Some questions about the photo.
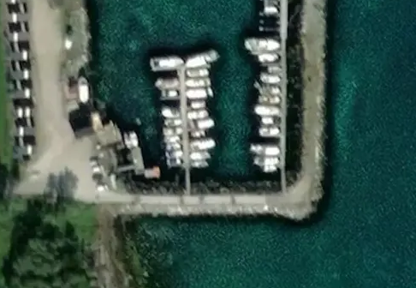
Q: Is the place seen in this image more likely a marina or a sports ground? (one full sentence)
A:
It's a marina.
